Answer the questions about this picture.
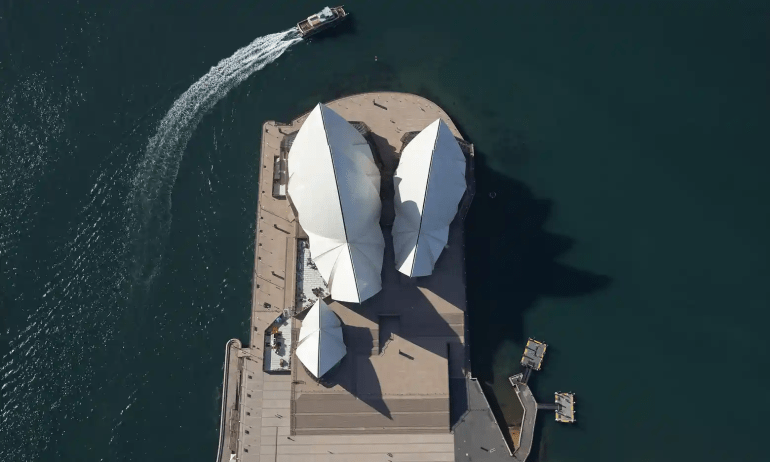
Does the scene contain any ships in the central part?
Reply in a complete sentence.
No, there's no ship to be seen in the central part.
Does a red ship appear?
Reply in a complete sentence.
No, I can't see a single red ship in this photo.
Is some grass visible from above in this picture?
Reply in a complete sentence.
No, there's no grass in this view.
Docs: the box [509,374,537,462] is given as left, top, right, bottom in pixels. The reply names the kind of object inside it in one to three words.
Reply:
pier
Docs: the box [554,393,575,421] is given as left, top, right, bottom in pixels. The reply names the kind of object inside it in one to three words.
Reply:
pier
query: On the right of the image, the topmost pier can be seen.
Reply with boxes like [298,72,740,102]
[521,339,547,368]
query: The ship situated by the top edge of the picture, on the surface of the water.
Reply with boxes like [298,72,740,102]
[295,2,350,38]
